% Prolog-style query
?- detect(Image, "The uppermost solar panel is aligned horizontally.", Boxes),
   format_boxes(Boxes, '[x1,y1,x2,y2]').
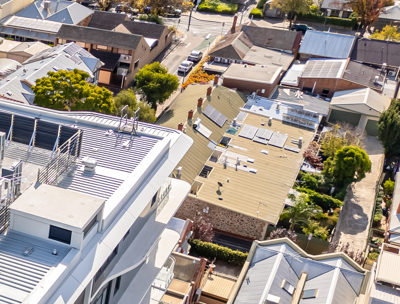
[4,16,65,32]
